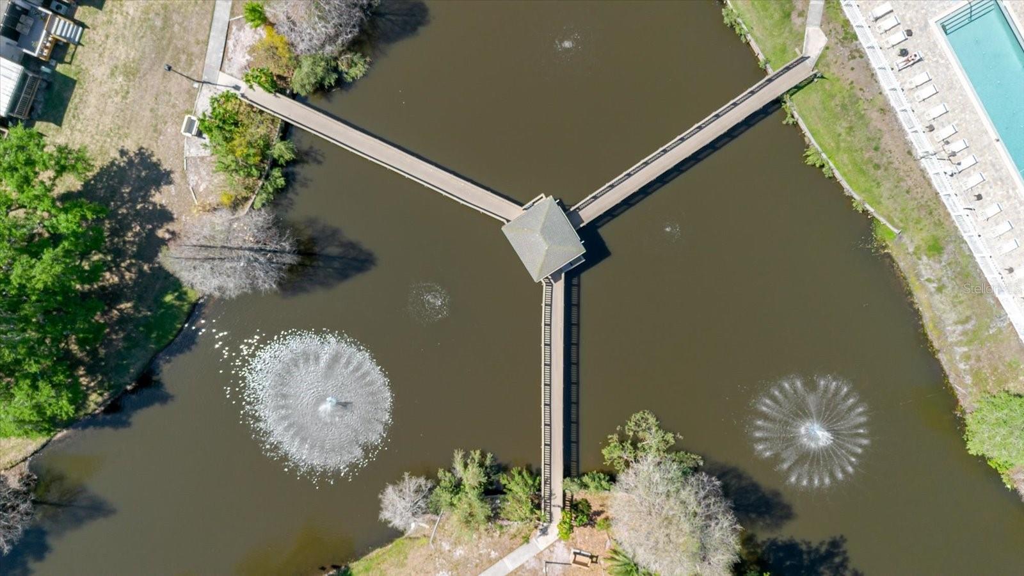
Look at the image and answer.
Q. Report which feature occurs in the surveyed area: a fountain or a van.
fountain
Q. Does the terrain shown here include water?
Yes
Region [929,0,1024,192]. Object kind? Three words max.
swimming pool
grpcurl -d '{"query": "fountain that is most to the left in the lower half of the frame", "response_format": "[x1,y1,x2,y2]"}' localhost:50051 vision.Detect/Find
[216,327,390,492]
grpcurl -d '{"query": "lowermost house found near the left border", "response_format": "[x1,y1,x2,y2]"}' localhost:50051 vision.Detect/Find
[0,58,59,132]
